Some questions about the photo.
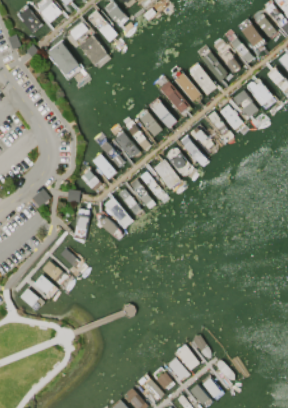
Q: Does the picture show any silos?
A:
No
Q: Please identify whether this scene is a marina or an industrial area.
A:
marina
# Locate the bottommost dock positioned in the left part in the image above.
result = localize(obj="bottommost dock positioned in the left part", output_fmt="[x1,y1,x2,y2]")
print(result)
[71,303,136,334]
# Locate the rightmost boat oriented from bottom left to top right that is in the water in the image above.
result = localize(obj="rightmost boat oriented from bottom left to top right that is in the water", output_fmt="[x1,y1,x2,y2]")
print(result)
[269,100,286,115]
